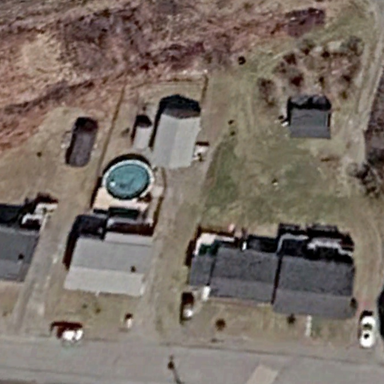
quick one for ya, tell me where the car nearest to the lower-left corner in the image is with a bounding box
[58,325,86,342]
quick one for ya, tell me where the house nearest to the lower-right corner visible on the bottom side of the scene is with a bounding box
[274,256,356,320]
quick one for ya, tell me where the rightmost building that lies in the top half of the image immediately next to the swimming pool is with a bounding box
[153,115,201,168]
